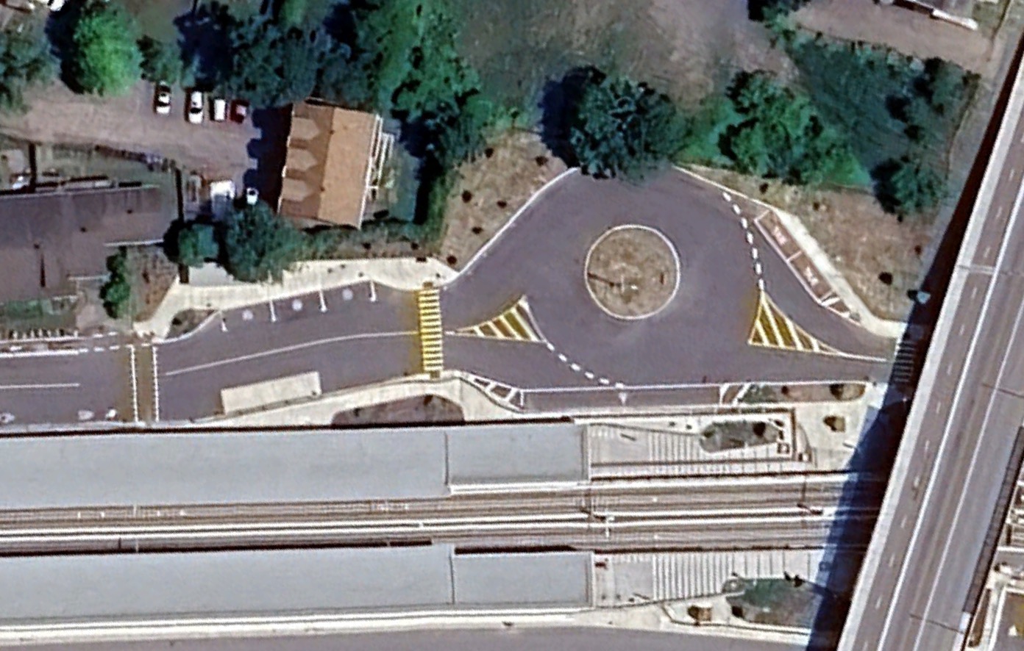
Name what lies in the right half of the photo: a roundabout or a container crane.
roundabout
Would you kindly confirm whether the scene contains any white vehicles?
Yes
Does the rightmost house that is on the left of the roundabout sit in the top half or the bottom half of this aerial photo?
top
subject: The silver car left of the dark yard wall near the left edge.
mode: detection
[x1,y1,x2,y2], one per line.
[8,166,27,189]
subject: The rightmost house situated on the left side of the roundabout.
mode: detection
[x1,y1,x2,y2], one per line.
[277,102,377,229]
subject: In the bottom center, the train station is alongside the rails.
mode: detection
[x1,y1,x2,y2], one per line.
[0,410,1024,626]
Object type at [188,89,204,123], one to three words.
car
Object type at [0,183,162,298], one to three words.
building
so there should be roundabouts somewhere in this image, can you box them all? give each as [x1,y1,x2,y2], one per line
[443,152,938,409]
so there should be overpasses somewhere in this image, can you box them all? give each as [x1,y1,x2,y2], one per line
[838,46,1024,651]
